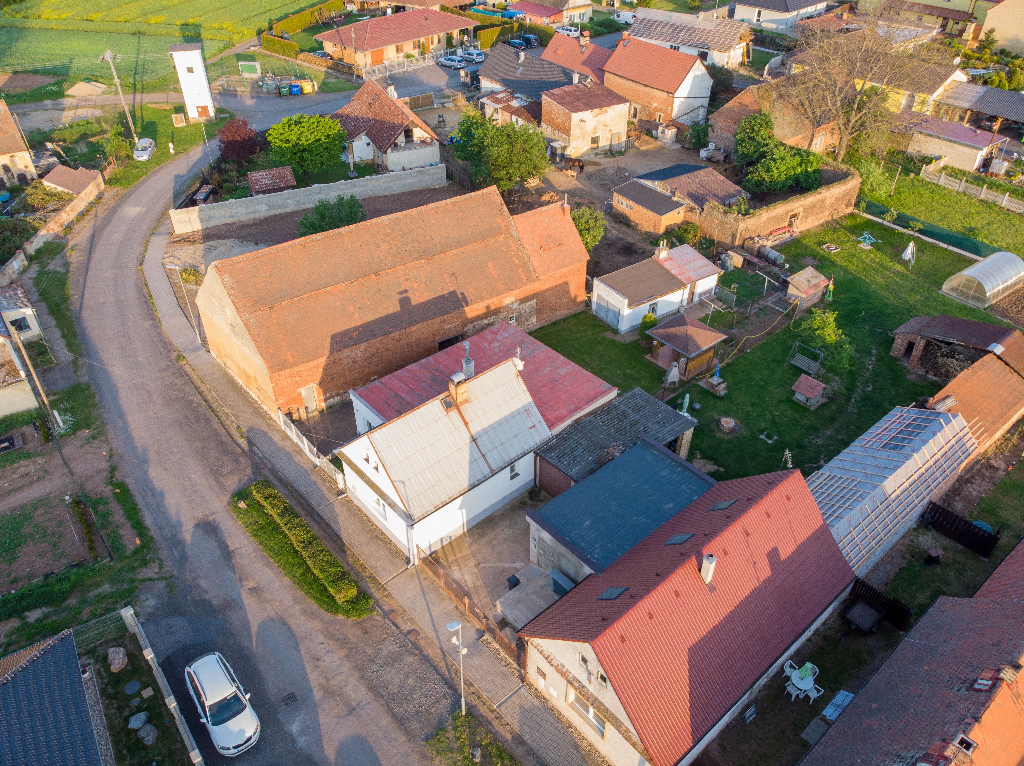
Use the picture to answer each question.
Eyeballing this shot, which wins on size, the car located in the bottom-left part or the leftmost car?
the car located in the bottom-left part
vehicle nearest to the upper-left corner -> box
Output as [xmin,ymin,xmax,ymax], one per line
[130,136,157,160]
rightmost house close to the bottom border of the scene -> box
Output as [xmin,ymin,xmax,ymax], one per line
[790,592,1024,766]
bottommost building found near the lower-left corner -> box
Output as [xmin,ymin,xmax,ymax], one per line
[0,627,104,766]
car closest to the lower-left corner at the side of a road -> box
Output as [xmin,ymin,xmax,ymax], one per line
[178,646,260,756]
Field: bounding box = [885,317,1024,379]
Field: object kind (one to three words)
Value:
shed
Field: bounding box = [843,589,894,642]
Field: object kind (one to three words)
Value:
trailer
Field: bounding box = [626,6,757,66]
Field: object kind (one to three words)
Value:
house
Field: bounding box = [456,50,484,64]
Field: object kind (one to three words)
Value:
car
